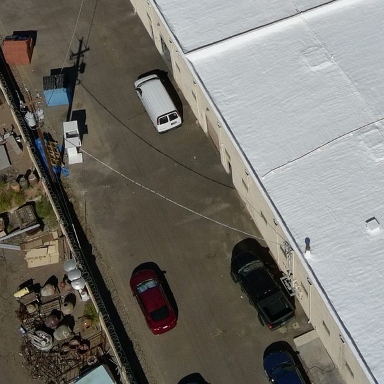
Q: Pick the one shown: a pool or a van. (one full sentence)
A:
Visible in the photo is a van.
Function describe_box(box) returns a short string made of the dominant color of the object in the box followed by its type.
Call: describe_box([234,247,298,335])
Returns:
black truck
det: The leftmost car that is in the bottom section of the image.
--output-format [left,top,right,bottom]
[132,268,179,337]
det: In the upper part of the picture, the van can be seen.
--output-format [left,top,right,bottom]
[132,72,185,137]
